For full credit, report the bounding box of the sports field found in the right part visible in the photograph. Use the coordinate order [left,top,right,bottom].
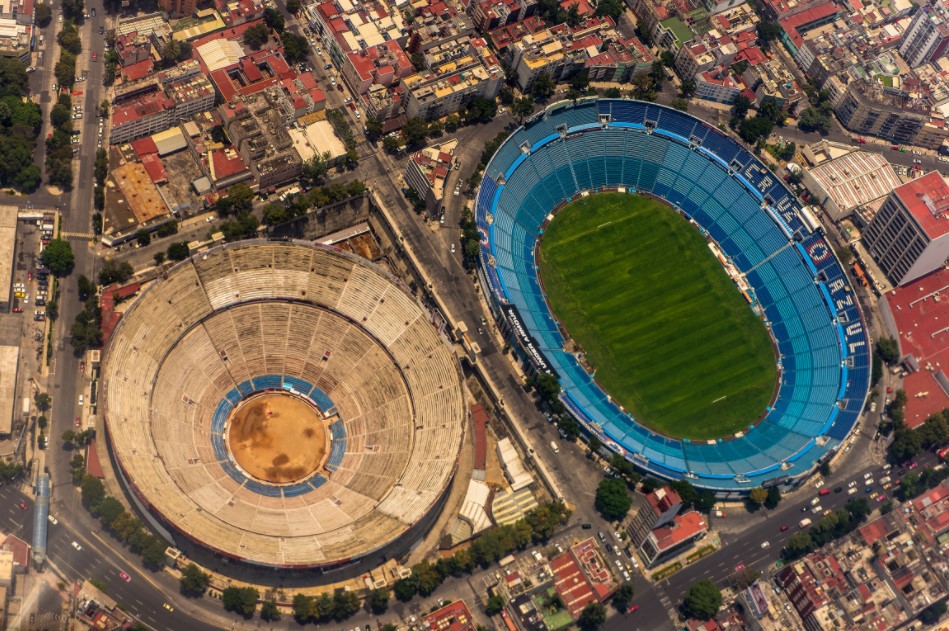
[541,194,776,437]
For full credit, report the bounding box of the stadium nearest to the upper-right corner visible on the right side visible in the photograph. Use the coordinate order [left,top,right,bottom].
[472,91,870,500]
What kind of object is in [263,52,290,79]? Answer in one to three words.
house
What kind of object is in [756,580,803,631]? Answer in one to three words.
house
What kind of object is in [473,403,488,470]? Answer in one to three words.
shed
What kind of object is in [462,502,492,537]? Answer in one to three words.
building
